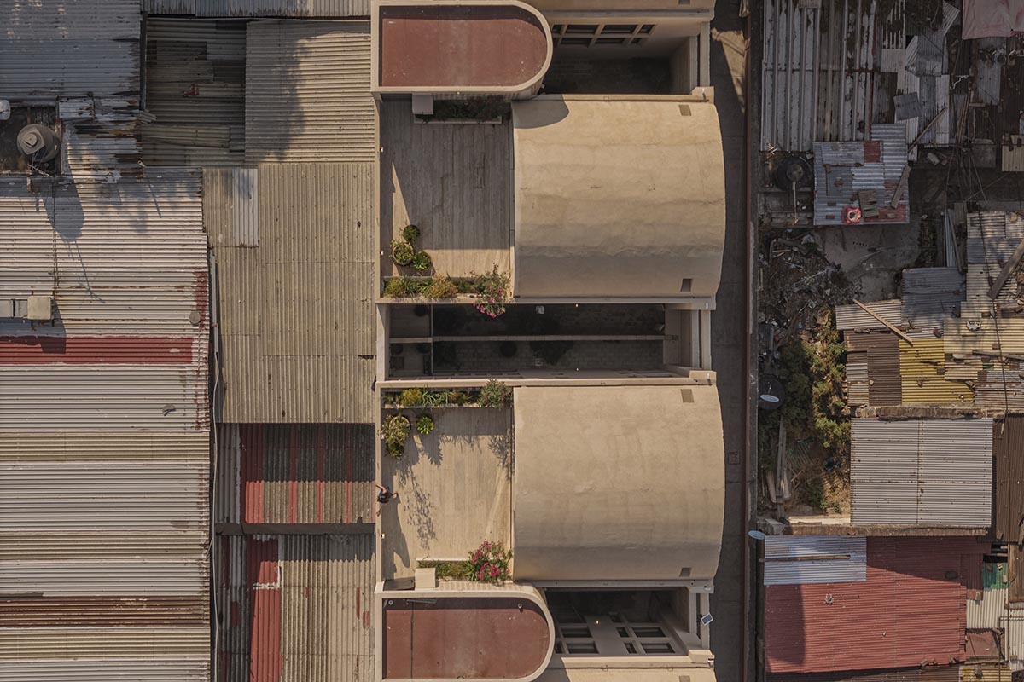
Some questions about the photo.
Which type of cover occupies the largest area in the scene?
buildings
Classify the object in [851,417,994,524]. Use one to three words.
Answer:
house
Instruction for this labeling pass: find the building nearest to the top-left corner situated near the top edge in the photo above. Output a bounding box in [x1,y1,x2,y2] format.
[0,0,142,102]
